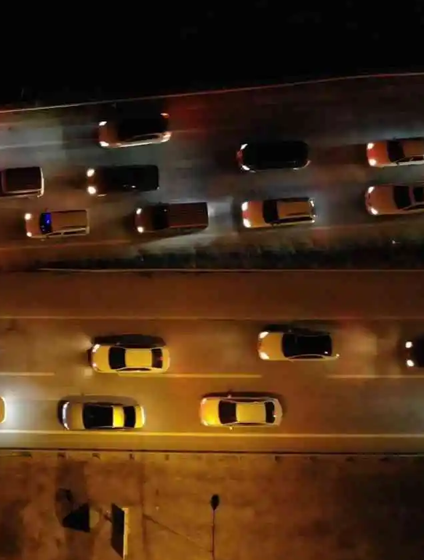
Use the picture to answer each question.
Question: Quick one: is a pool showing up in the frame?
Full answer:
No, the scene contains no pool.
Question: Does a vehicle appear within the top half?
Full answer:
Yes, a vehicle shows up within the top half.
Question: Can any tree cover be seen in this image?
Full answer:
No, there's no tree cover in this view.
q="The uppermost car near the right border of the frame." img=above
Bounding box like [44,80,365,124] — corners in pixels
[365,132,424,170]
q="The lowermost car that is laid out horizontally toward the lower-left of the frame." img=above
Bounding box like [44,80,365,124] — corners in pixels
[59,396,147,435]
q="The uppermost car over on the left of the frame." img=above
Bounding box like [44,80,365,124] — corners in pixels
[98,112,175,151]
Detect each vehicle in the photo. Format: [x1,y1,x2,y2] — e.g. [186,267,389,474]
[256,325,344,363]
[98,112,175,151]
[199,391,286,431]
[86,158,158,197]
[365,132,424,170]
[235,136,310,173]
[59,396,147,435]
[91,338,174,377]
[361,178,424,217]
[240,193,317,229]
[0,161,47,199]
[401,335,424,367]
[134,198,207,234]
